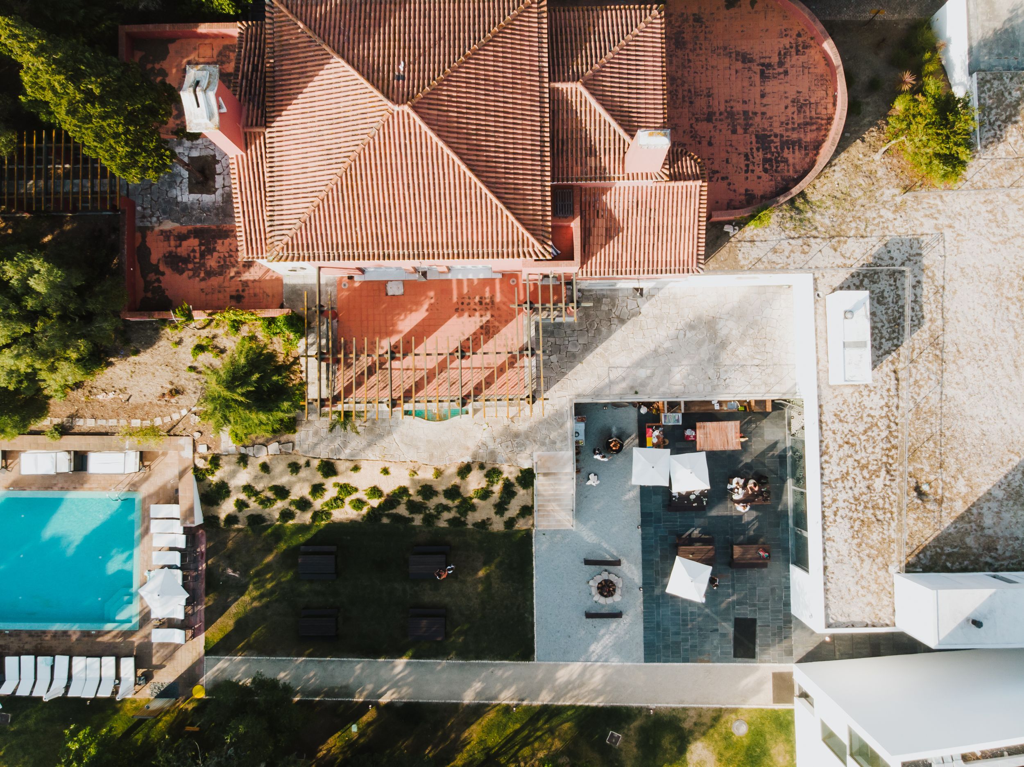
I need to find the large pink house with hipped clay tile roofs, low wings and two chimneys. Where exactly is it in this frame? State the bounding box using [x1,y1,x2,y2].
[182,0,716,290]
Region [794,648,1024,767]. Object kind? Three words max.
building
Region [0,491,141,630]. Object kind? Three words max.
swimming pool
